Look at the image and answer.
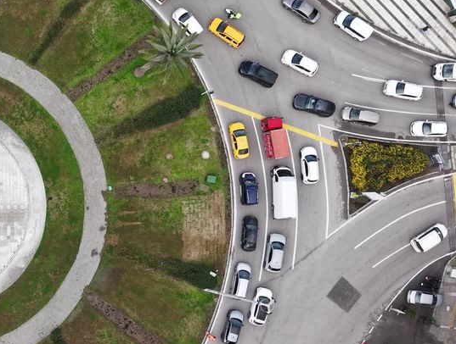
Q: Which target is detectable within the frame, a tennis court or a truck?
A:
truck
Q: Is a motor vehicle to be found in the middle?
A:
Yes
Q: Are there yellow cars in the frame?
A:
Yes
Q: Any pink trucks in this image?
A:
Yes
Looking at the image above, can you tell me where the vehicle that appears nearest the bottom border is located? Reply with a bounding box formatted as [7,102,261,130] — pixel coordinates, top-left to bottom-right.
[222,308,245,344]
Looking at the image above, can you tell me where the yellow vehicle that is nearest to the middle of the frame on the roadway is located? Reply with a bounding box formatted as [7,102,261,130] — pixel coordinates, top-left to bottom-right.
[227,122,250,160]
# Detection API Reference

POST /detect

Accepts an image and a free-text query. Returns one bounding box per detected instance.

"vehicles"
[267,165,298,219]
[247,285,274,327]
[227,122,250,160]
[298,145,320,184]
[405,222,451,254]
[222,308,245,344]
[258,117,292,161]
[278,48,321,77]
[427,61,456,83]
[230,261,252,298]
[264,232,287,272]
[423,283,444,290]
[381,79,424,102]
[338,105,381,126]
[240,215,260,251]
[291,93,338,119]
[171,6,207,40]
[236,60,280,89]
[403,288,442,307]
[408,119,449,138]
[279,0,322,25]
[239,170,259,205]
[207,16,248,51]
[330,10,376,42]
